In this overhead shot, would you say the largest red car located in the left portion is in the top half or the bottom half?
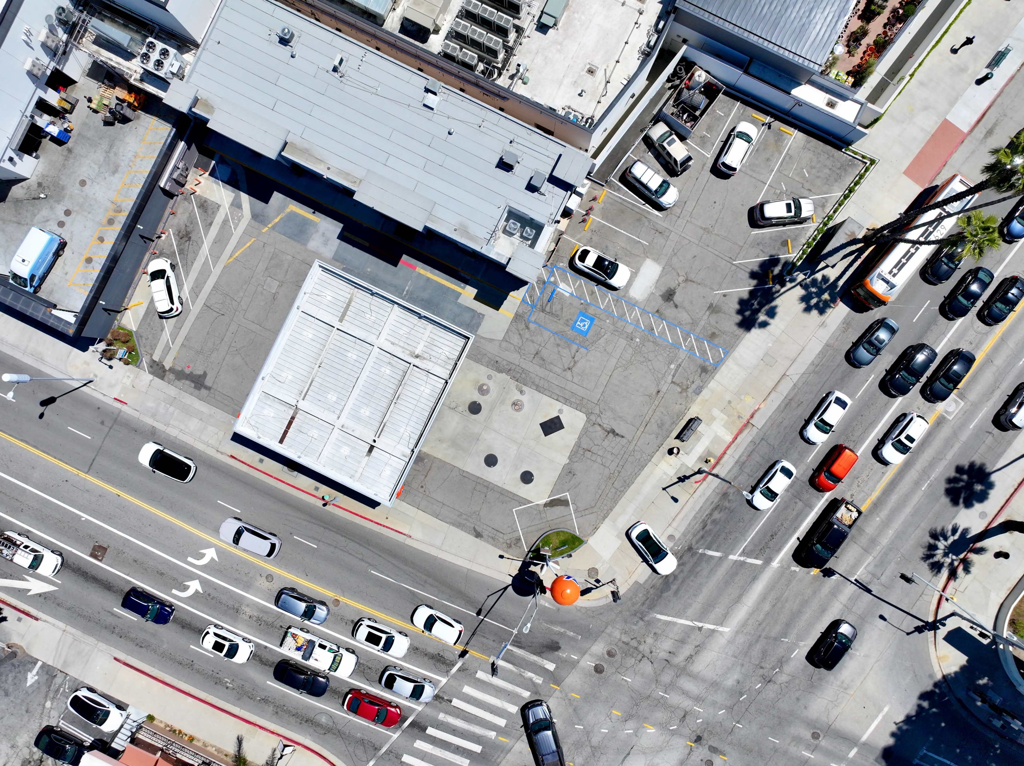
bottom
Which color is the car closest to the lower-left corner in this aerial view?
black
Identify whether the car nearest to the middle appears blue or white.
white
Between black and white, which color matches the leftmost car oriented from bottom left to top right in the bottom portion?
white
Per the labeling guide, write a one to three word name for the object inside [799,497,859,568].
truck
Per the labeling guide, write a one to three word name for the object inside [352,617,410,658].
car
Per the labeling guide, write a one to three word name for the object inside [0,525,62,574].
truck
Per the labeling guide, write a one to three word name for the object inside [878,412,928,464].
car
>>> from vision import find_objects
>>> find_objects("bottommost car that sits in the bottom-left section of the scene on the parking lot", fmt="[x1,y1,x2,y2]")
[33,727,90,766]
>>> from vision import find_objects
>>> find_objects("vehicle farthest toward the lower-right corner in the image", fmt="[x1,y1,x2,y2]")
[811,618,853,673]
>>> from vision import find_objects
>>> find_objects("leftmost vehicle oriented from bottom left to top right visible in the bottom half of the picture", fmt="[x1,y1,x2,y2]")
[750,459,796,510]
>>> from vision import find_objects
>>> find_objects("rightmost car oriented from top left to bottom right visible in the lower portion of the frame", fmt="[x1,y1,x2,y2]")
[629,521,673,574]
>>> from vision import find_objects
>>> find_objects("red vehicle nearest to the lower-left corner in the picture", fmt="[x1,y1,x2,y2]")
[344,687,400,727]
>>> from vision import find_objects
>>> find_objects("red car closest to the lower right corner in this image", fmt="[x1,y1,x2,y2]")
[812,445,857,491]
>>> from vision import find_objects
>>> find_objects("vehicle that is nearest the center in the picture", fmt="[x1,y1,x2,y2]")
[573,247,629,287]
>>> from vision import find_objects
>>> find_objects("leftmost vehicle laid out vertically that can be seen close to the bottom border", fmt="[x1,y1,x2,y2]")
[525,698,562,766]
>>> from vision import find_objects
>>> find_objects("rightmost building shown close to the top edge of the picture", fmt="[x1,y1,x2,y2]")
[655,0,867,143]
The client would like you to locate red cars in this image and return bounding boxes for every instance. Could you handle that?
[812,445,857,491]
[344,687,400,727]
